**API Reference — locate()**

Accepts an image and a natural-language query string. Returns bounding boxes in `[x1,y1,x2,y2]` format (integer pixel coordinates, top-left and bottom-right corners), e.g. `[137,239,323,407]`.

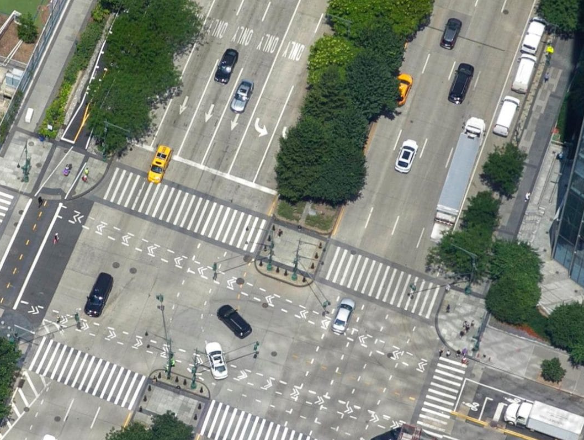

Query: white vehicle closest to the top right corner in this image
[522,17,545,55]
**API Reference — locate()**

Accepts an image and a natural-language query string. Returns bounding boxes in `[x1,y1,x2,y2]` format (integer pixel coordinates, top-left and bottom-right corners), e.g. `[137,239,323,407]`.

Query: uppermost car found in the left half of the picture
[215,48,237,86]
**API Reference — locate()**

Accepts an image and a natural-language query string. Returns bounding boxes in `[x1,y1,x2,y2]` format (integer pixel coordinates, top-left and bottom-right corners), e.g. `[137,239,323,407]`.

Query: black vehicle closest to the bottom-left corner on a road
[87,272,114,318]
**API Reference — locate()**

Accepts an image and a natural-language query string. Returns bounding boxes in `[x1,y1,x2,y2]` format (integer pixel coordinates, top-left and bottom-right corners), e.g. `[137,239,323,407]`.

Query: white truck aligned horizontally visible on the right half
[502,405,584,440]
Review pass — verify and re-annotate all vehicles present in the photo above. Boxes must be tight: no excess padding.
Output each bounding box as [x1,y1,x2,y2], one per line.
[510,54,535,94]
[448,63,473,106]
[87,272,114,318]
[502,405,584,440]
[431,121,485,244]
[232,79,254,114]
[440,19,461,51]
[331,299,353,335]
[205,344,227,381]
[148,145,171,183]
[217,305,252,340]
[397,76,414,108]
[396,141,416,175]
[372,426,405,440]
[493,96,518,138]
[215,48,237,86]
[522,17,545,55]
